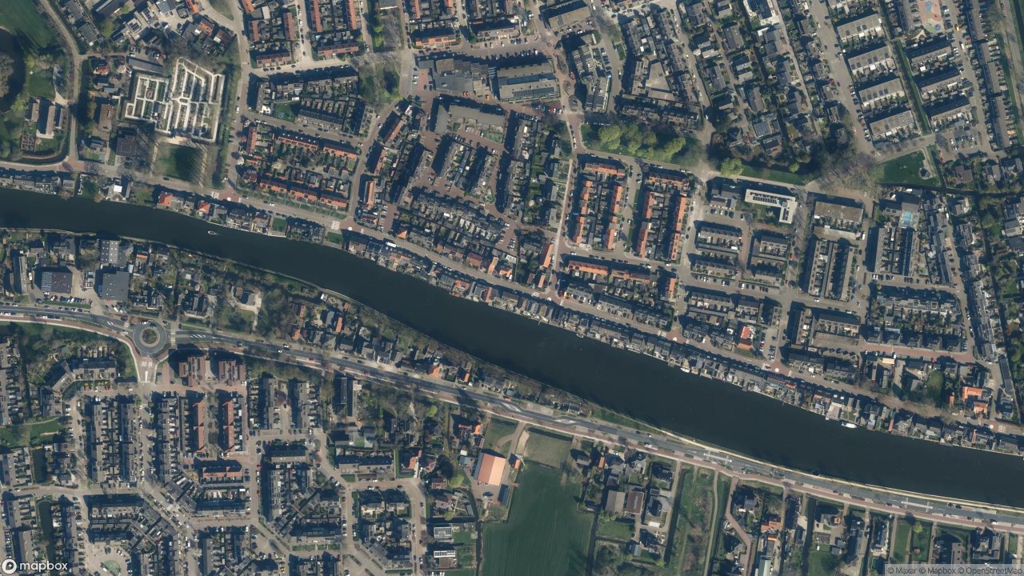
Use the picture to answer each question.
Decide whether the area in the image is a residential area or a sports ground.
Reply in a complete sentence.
What you see here is a residential area.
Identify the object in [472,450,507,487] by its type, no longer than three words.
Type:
barn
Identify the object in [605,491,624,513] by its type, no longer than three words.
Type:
barn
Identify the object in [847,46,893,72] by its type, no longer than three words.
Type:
building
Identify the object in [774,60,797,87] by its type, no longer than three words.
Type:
house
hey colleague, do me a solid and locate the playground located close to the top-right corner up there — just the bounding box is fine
[918,0,944,33]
